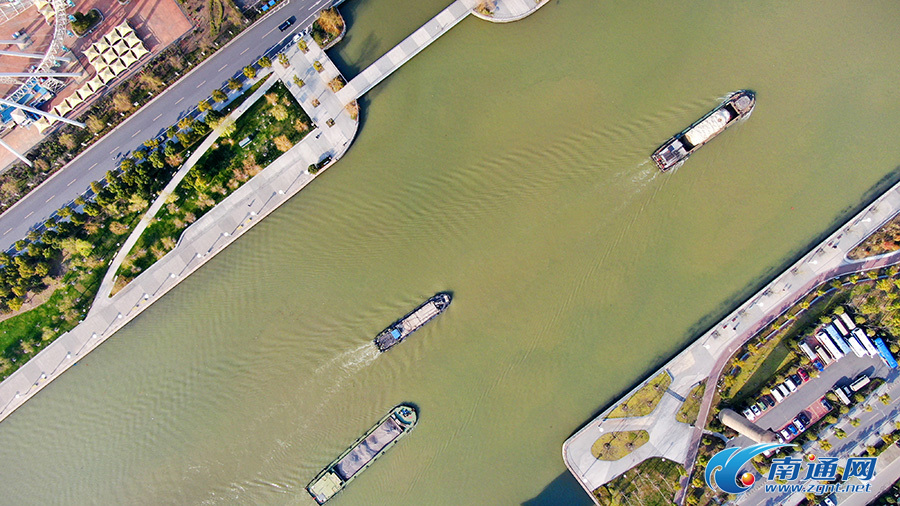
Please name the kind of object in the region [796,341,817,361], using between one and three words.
bus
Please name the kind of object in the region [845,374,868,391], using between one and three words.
vehicle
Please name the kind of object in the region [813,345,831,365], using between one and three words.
vehicle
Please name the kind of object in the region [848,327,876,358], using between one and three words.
bus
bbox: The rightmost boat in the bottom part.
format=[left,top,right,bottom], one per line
[374,293,453,352]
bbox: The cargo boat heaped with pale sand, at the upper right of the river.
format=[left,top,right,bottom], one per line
[651,90,757,171]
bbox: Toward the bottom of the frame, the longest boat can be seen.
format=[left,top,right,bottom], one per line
[307,403,419,505]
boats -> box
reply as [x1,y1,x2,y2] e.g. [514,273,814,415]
[307,403,419,505]
[374,293,453,352]
[651,90,757,171]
